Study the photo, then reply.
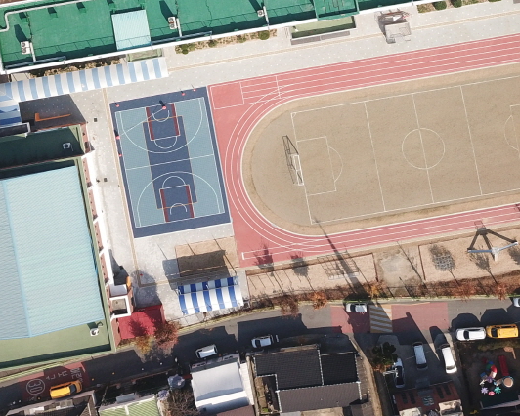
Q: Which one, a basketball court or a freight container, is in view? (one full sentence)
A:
The one in the frame is a basketball court.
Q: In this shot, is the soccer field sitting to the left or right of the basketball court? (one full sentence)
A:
The basketball court has the soccer field on its right side.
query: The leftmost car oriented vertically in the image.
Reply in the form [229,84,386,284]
[393,361,405,387]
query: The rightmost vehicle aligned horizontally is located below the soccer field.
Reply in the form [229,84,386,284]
[487,324,518,338]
